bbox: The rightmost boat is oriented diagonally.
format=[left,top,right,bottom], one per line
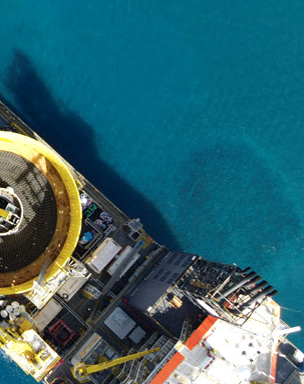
[275,337,304,366]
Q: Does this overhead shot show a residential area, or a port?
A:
port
